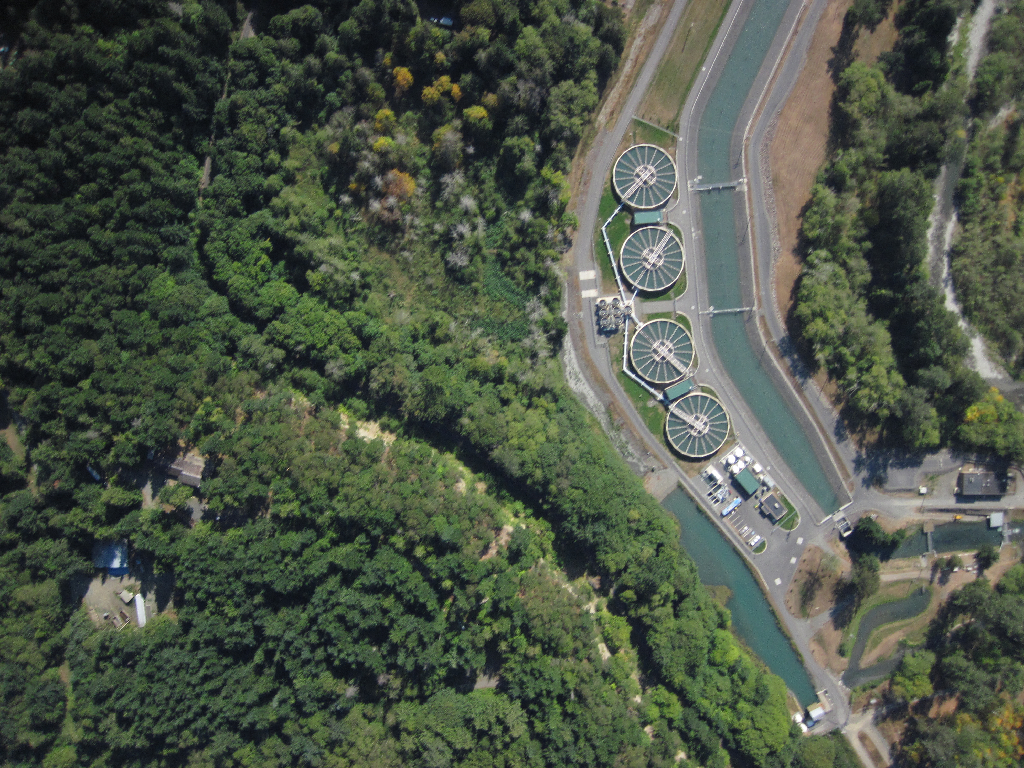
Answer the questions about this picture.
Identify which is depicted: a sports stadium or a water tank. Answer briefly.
water tank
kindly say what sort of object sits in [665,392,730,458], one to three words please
water tank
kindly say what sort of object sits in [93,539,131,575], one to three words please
barn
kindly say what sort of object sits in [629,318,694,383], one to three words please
water tank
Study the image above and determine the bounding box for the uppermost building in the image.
[633,211,663,225]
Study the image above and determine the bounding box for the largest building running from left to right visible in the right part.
[961,473,1008,494]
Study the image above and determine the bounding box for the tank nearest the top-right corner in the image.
[612,144,677,209]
